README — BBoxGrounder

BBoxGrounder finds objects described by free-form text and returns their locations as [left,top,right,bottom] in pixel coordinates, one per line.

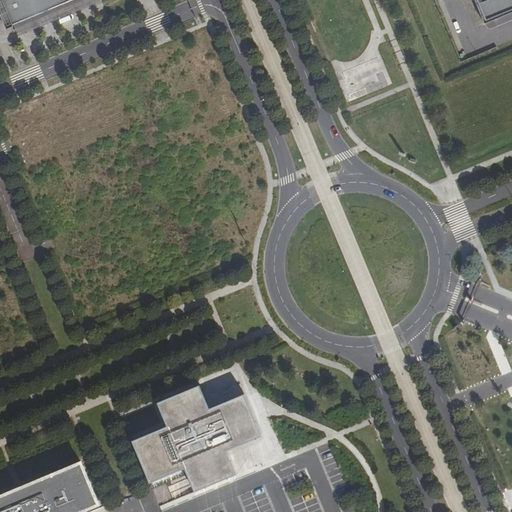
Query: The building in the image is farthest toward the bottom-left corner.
[0,462,100,512]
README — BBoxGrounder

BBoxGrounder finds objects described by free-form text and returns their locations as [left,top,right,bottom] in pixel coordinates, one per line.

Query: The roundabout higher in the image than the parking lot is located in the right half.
[264,172,452,356]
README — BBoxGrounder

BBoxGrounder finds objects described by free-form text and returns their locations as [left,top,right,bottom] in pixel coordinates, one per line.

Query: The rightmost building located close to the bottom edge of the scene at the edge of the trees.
[130,386,260,508]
